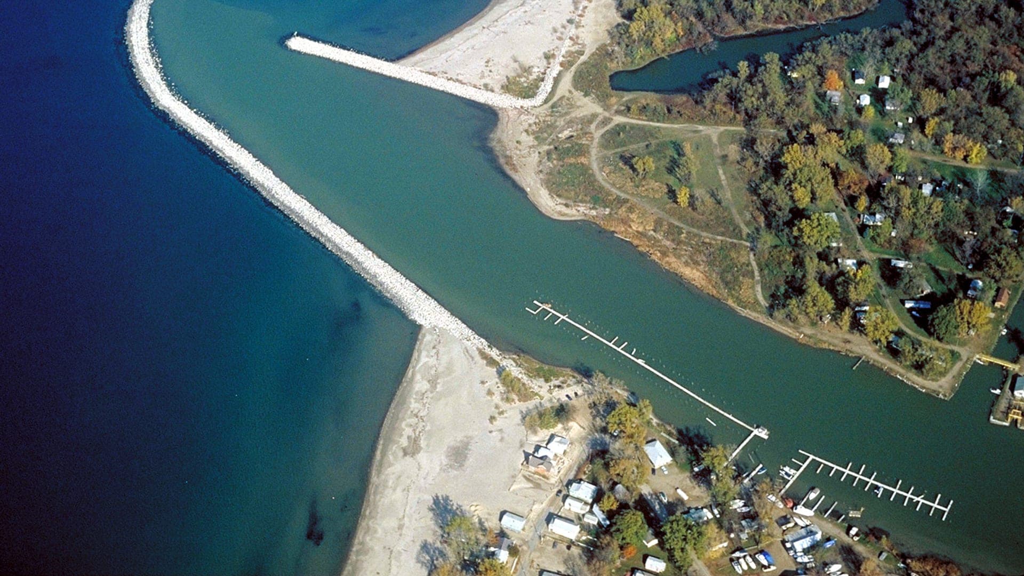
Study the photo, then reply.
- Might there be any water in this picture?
Yes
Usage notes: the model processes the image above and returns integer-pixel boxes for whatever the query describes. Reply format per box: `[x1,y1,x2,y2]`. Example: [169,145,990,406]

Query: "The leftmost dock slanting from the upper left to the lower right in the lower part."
[526,300,768,463]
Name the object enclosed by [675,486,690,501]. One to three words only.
vehicle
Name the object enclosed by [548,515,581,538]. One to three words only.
house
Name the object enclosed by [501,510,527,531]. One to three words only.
house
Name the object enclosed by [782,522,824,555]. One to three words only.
shed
